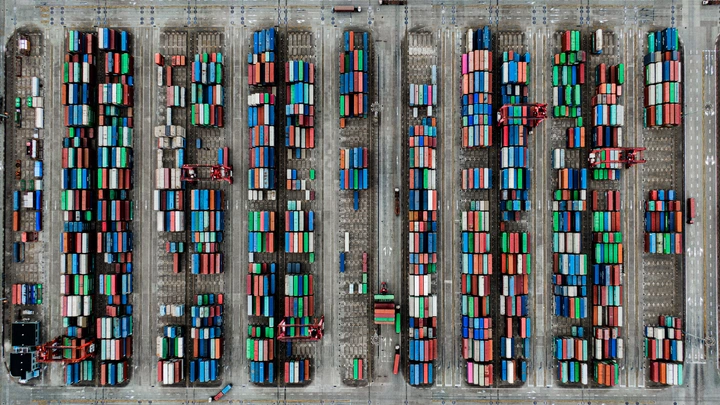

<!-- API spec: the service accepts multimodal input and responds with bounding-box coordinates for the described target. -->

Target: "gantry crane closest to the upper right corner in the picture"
[586,146,649,172]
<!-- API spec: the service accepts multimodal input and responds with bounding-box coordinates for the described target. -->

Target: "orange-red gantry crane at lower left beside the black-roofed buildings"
[33,330,101,364]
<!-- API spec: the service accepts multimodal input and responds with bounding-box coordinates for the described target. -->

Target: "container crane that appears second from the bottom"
[278,309,326,340]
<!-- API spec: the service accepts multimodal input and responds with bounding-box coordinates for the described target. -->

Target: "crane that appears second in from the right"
[494,101,551,131]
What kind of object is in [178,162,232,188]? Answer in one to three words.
container crane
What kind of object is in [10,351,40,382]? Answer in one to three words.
building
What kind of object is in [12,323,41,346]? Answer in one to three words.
building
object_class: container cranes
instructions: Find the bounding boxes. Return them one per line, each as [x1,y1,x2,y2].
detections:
[33,330,101,364]
[278,309,326,340]
[178,162,232,188]
[586,146,649,172]
[494,101,551,131]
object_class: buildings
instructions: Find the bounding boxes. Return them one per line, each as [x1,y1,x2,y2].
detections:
[12,323,41,346]
[10,351,40,382]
